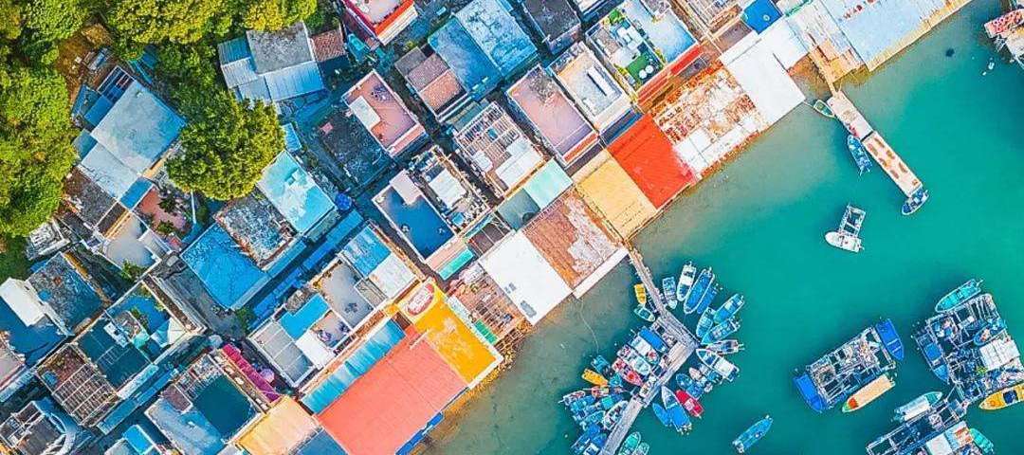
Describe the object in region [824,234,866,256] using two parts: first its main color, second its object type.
white boat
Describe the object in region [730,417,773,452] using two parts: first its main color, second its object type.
blue boat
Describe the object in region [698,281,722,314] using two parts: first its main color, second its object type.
blue boat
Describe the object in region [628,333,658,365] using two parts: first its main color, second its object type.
white boat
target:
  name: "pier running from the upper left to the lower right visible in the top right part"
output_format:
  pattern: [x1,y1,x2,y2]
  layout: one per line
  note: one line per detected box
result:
[808,52,921,196]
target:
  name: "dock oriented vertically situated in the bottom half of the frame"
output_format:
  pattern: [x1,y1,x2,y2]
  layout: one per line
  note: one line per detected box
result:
[602,244,705,455]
